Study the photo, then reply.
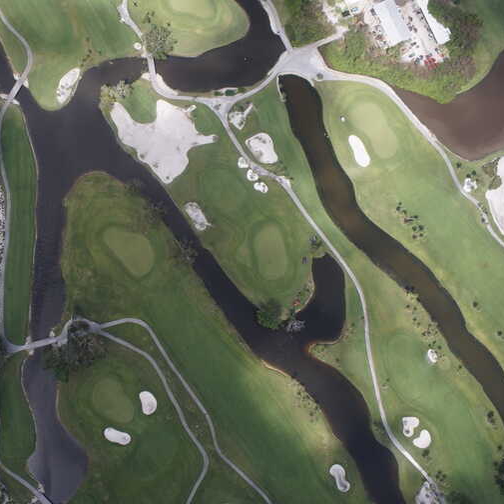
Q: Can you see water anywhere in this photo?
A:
Yes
